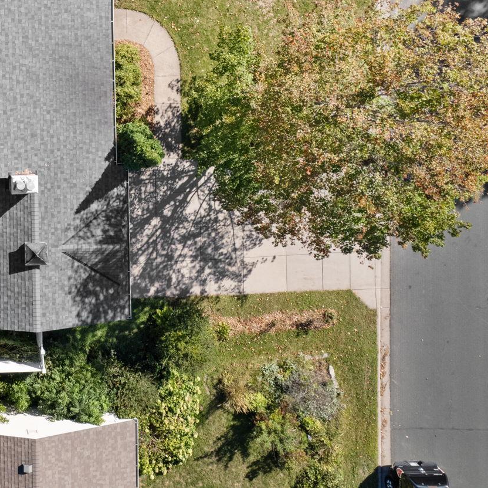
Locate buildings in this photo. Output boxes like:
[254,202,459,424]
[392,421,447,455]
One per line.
[0,407,141,488]
[0,0,134,332]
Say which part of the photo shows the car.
bottom right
